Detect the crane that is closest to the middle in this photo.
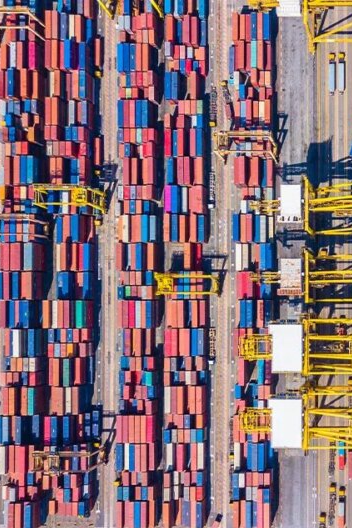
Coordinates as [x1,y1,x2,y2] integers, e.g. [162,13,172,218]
[155,273,221,298]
